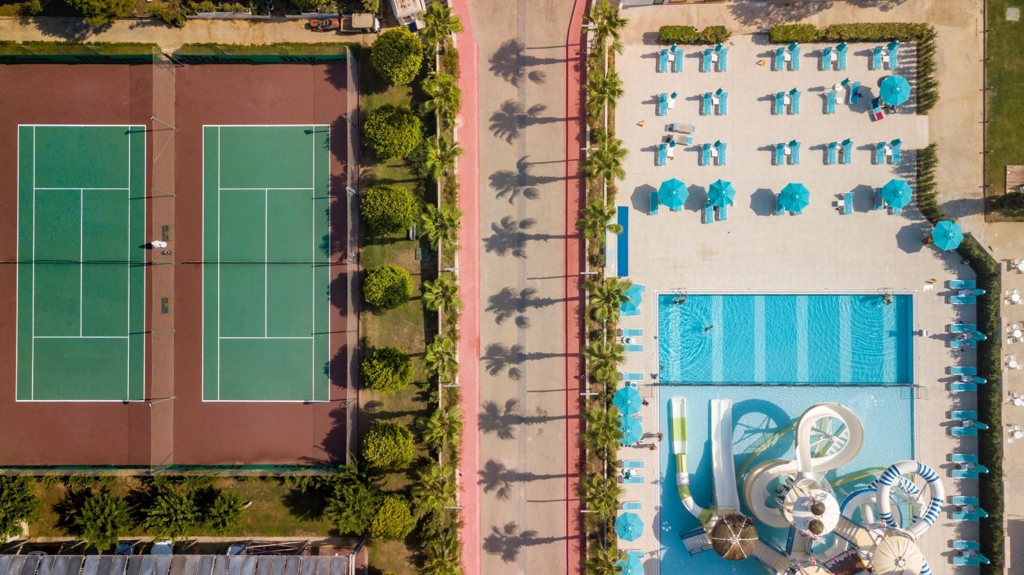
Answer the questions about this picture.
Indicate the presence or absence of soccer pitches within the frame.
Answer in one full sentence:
No, I can't see a single soccer pitch in this photo.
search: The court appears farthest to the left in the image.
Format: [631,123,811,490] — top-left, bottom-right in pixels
[0,63,175,465]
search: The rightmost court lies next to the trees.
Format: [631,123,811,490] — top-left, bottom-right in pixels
[172,63,358,465]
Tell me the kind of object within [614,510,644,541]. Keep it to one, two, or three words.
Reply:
umbrella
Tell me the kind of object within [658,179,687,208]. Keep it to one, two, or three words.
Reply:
umbrella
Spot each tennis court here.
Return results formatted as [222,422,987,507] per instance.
[172,63,358,465]
[0,63,175,465]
